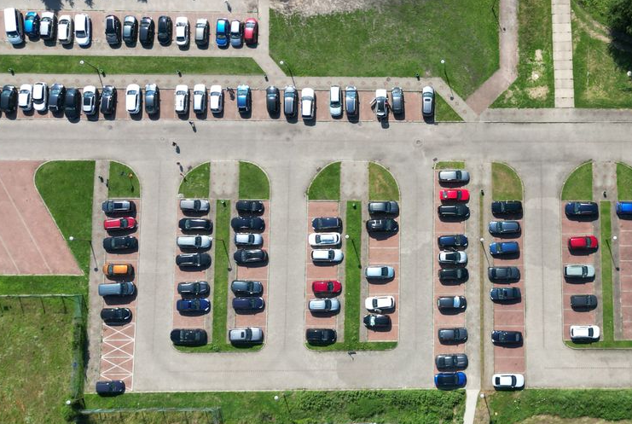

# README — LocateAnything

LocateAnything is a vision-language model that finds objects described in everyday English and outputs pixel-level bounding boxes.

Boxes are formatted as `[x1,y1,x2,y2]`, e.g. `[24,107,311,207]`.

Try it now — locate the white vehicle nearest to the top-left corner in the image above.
[2,6,24,45]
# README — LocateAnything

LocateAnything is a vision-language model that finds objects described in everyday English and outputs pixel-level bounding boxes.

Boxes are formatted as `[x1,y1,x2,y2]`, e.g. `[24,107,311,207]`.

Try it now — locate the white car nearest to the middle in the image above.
[309,232,341,247]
